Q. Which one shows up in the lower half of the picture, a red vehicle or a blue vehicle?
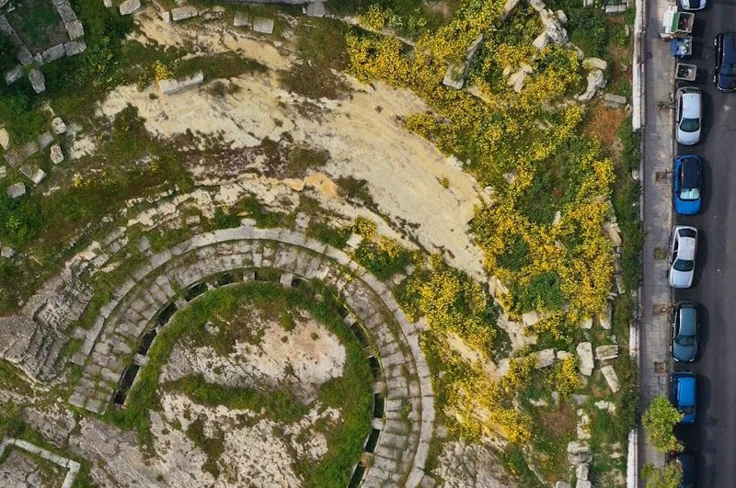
blue vehicle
